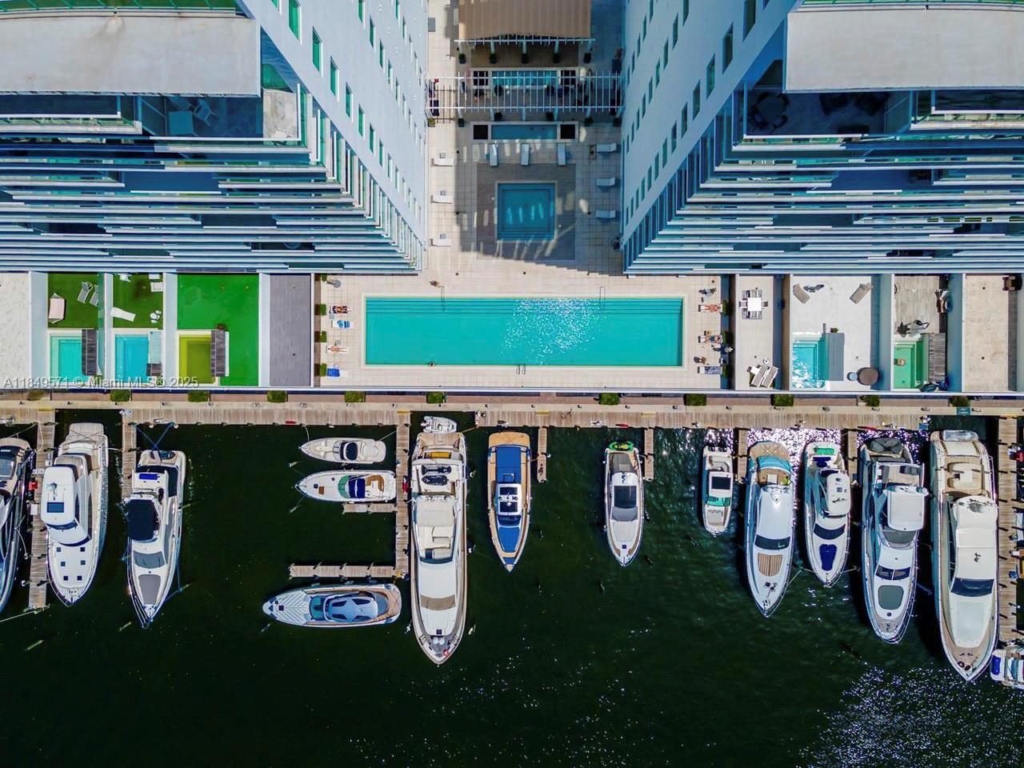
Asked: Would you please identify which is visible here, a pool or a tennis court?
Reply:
pool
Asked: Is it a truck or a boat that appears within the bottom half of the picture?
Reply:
boat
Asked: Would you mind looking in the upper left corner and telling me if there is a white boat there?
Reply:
No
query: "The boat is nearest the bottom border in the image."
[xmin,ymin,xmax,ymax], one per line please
[989,647,1024,688]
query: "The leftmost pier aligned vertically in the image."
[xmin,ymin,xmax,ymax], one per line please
[28,425,60,608]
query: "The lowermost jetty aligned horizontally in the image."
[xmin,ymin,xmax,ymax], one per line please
[290,565,396,577]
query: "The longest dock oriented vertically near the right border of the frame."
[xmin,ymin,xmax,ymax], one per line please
[992,414,1019,644]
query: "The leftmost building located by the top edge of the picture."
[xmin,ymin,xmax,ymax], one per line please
[0,0,428,270]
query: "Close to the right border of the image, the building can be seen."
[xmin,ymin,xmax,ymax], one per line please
[623,0,1024,272]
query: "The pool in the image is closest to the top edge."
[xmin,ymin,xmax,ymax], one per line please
[491,70,557,86]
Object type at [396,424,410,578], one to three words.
pier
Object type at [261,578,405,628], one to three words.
boat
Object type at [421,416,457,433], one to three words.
boat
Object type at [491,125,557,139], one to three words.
swimming pool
